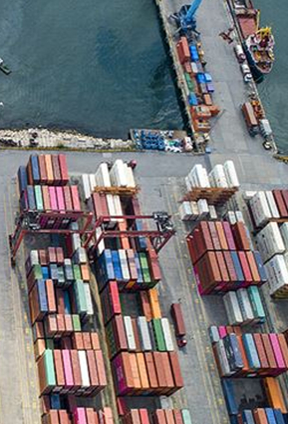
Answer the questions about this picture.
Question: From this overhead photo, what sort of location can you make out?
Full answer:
This image shows a port.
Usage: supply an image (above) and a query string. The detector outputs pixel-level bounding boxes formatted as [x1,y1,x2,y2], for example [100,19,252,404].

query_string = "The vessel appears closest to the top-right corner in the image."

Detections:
[224,0,280,79]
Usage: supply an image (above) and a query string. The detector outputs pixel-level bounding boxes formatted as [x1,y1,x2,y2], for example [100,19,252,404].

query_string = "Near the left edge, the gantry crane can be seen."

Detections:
[11,209,98,262]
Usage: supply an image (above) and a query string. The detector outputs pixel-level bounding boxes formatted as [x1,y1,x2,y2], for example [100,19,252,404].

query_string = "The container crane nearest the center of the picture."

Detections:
[83,214,177,260]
